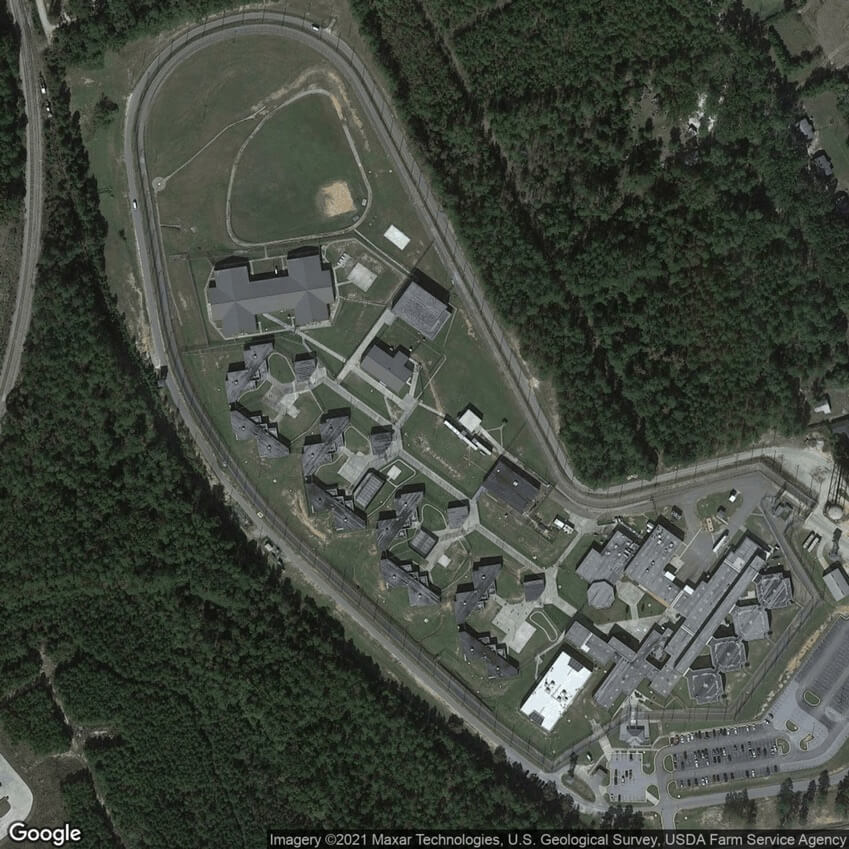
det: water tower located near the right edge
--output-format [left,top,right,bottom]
[823,499,849,523]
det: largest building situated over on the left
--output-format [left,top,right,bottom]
[208,255,336,337]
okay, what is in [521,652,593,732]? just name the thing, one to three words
building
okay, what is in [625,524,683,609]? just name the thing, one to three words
building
